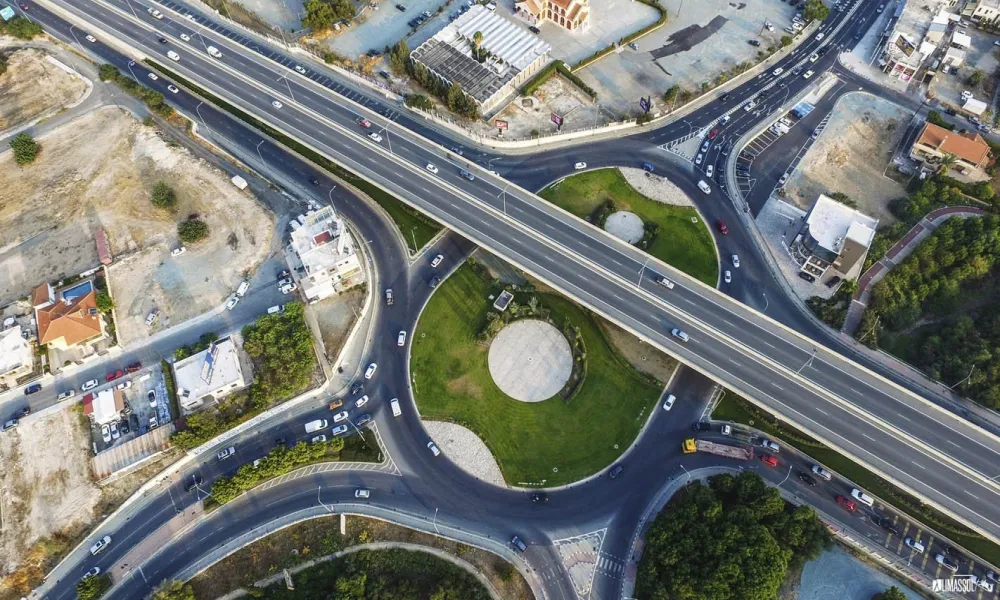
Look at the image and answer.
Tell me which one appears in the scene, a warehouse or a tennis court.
warehouse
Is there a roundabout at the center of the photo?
Yes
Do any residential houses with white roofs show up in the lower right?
No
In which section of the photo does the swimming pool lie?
left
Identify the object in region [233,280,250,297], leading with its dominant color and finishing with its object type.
white vehicle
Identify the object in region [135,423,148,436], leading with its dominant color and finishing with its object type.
blue vehicle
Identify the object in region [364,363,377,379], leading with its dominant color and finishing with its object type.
white vehicle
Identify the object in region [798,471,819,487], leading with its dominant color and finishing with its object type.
black car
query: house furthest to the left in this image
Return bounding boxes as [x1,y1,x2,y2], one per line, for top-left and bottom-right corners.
[0,325,46,393]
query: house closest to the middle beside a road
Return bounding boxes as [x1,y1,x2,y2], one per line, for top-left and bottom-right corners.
[289,205,364,311]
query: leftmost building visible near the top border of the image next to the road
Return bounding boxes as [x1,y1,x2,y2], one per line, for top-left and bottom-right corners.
[411,6,553,118]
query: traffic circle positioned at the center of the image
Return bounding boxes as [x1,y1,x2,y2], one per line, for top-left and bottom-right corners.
[384,145,762,544]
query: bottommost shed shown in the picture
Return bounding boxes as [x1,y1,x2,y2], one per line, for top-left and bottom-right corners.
[92,424,178,479]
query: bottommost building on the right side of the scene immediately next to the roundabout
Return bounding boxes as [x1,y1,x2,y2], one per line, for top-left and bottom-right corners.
[783,193,878,280]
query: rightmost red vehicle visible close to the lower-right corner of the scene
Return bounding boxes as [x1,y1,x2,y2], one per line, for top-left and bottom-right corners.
[835,495,858,513]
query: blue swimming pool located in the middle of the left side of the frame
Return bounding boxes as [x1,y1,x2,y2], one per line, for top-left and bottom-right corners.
[62,279,96,299]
